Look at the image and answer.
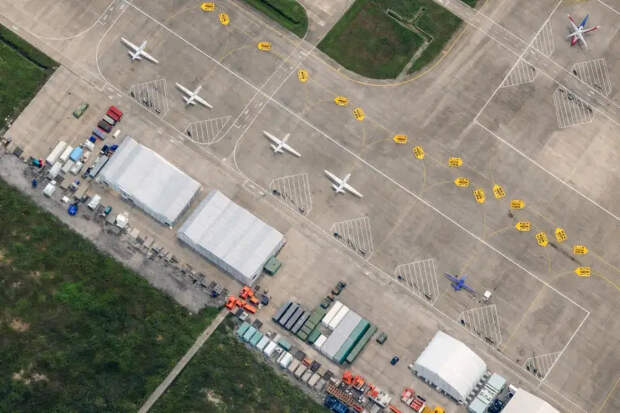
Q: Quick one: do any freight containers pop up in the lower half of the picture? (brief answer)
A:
Yes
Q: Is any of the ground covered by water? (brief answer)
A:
No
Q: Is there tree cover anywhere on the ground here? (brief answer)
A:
No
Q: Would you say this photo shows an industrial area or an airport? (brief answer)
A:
airport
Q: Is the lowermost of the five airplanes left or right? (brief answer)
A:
right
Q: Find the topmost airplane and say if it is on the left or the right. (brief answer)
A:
left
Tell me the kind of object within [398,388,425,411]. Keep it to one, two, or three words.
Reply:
truck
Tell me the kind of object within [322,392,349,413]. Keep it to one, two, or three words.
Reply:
vehicle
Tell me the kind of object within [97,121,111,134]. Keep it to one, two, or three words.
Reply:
vehicle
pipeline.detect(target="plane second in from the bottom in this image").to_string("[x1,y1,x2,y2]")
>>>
[325,171,362,197]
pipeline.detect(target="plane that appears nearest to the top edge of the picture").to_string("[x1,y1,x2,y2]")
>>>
[124,36,159,62]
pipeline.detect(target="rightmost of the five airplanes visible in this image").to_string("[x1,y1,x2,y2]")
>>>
[444,271,477,294]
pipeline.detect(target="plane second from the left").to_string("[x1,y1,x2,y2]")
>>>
[176,82,212,108]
